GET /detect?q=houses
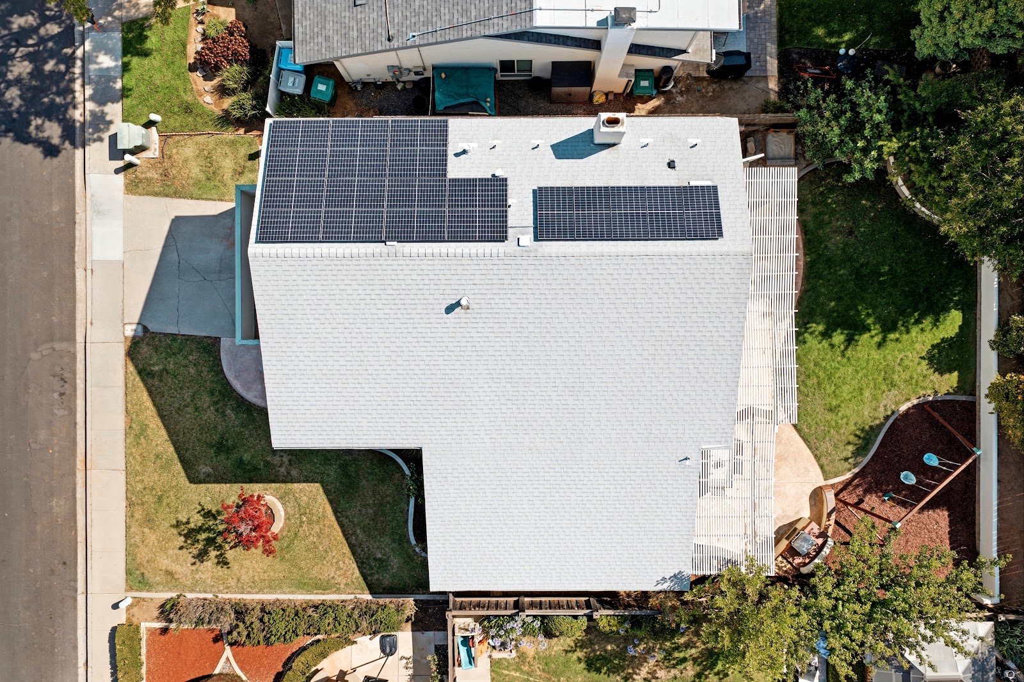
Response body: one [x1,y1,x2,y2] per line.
[294,0,743,98]
[236,116,767,593]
